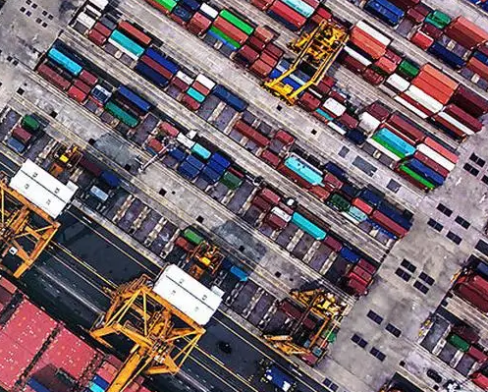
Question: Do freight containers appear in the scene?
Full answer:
Yes, the frame does contain a freight container.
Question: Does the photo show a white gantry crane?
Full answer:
Yes, I can see a white gantry crane in this picture.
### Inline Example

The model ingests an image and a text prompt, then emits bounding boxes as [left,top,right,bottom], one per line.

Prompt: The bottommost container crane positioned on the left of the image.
[86,257,230,392]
